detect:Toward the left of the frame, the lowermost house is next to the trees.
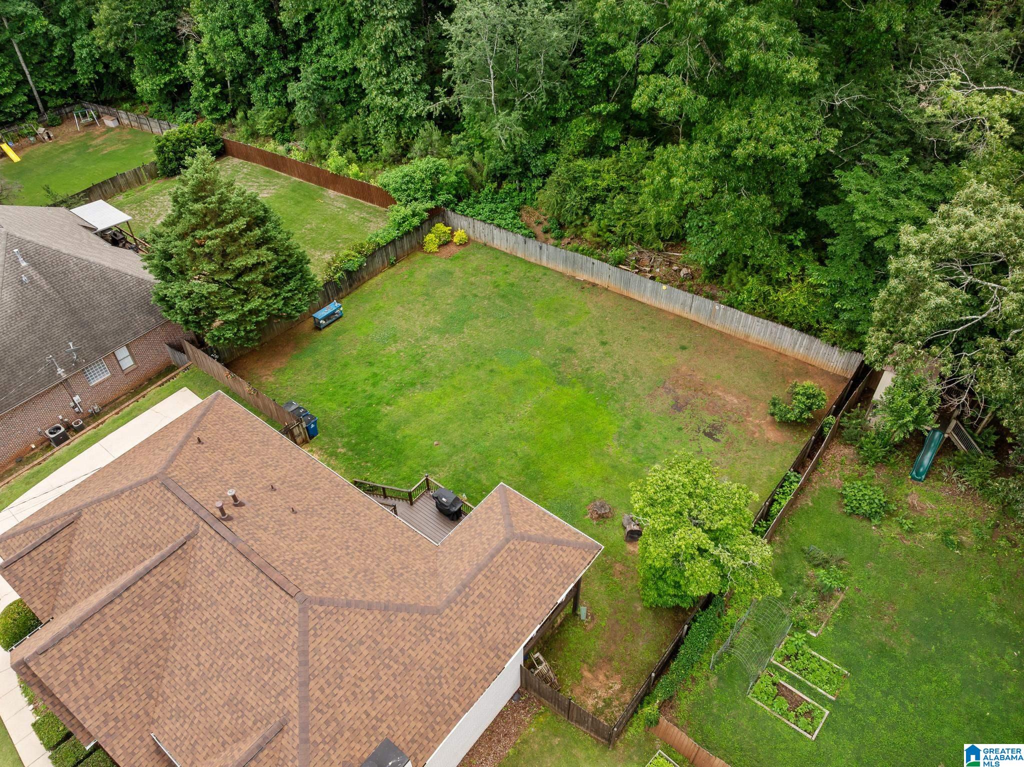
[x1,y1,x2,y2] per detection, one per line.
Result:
[0,389,606,767]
